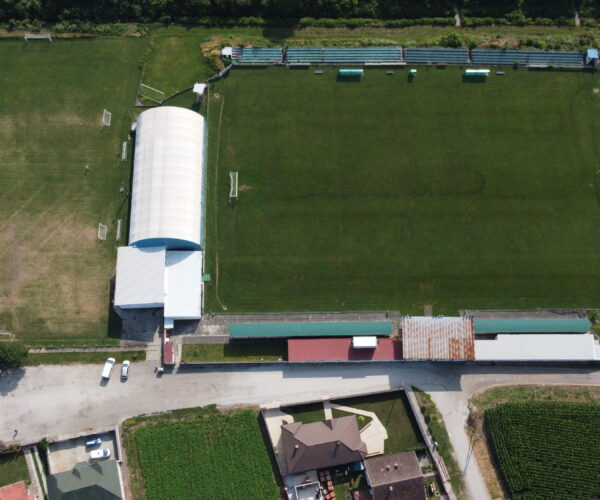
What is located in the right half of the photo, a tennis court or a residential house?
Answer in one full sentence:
The feature located in the right half of the photo is a residential house.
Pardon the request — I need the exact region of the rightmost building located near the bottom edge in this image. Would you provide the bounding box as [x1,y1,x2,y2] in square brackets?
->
[366,451,426,500]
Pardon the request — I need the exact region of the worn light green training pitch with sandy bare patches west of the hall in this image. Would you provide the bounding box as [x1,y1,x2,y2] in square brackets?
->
[0,38,147,349]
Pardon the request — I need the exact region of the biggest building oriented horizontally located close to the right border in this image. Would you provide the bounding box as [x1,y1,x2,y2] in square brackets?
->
[472,334,594,363]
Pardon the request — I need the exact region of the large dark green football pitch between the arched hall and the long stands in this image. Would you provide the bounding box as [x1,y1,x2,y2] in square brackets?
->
[203,66,600,313]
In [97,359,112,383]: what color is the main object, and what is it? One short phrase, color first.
white vehicle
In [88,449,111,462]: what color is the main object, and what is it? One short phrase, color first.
white vehicle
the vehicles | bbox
[84,438,103,450]
[88,449,111,462]
[119,362,129,382]
[97,359,112,383]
